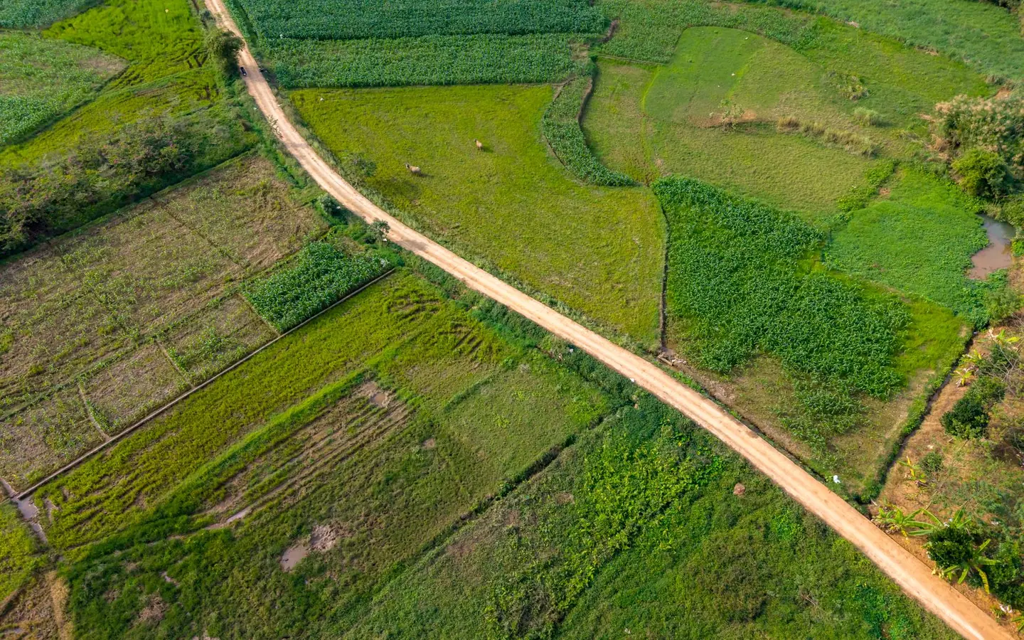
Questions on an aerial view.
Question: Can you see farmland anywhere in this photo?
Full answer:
Yes, some farmland is visible.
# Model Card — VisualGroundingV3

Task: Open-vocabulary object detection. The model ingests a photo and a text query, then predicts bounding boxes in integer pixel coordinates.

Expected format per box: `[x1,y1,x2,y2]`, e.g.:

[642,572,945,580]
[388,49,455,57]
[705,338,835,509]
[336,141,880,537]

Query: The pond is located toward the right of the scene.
[967,217,1014,280]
